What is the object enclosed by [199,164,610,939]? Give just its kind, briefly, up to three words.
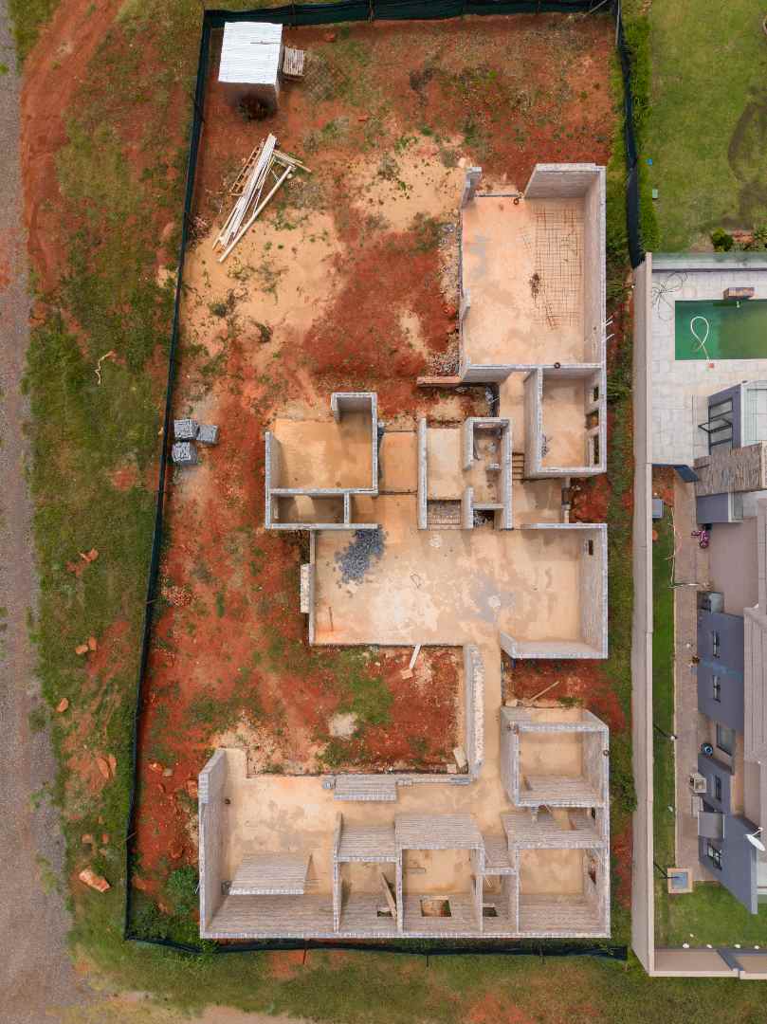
house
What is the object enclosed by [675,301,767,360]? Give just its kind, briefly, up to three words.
swimming pool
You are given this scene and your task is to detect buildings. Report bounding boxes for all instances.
[199,164,610,939]
[219,21,287,112]
[696,384,767,919]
